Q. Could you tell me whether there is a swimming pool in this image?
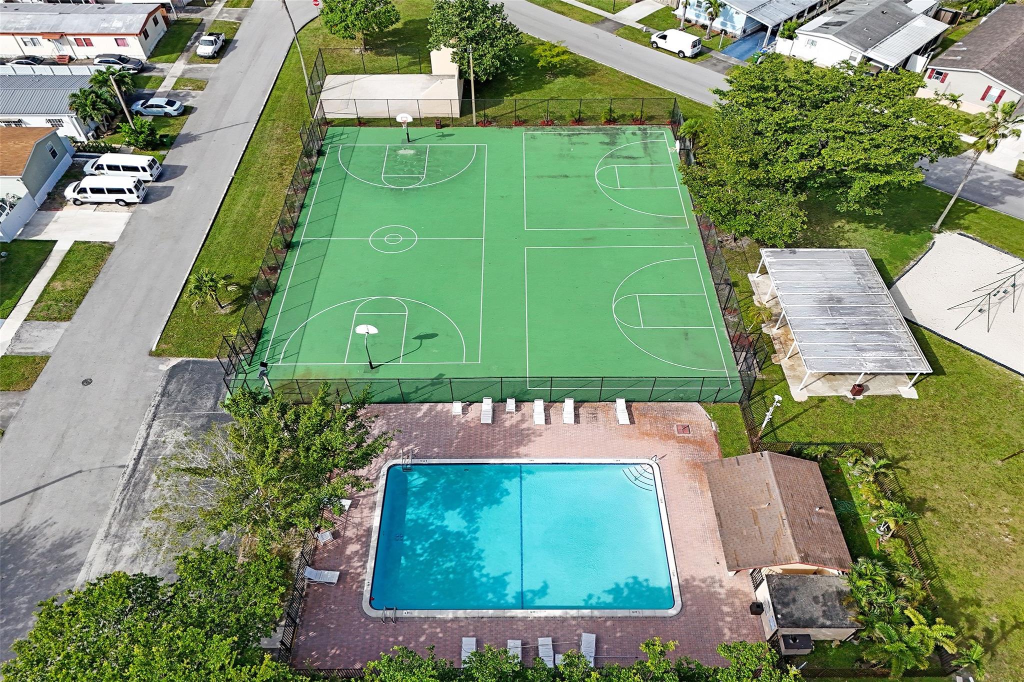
Yes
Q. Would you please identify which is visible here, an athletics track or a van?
van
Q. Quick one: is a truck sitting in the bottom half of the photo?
No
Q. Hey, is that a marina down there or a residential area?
residential area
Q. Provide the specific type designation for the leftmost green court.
basketball court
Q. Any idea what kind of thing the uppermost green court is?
basketball court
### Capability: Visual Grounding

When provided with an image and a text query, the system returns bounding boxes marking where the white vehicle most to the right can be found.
[638,28,697,57]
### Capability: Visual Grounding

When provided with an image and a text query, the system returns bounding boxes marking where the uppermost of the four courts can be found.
[314,39,465,117]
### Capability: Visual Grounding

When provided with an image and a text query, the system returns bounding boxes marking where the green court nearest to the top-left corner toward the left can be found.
[246,125,506,403]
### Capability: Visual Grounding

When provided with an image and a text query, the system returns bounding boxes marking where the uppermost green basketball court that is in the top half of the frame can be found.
[505,125,699,237]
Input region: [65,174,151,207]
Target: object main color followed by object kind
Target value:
white van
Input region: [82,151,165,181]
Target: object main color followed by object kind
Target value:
white van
